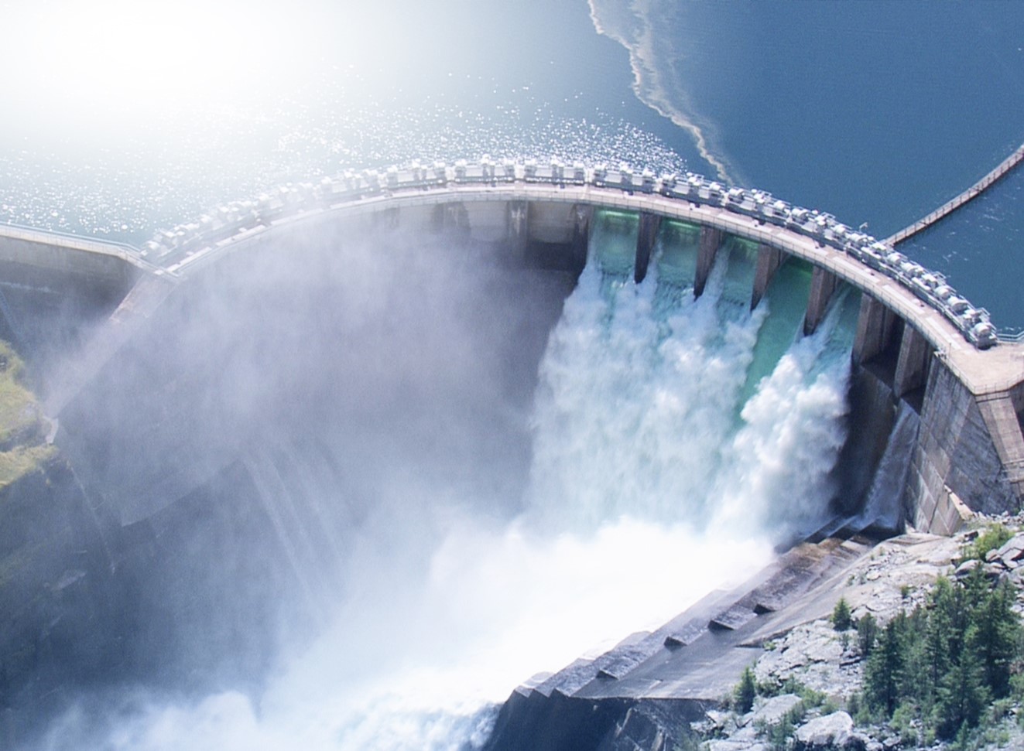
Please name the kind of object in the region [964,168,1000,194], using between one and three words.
pier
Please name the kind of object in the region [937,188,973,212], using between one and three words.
pier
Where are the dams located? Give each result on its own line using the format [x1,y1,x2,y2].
[44,166,1024,581]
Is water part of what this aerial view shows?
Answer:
Yes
